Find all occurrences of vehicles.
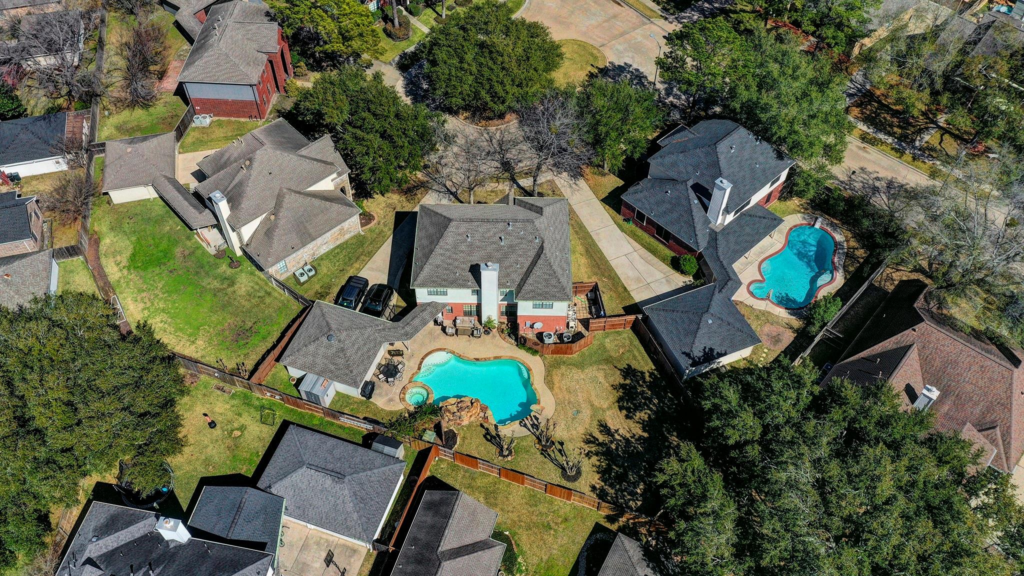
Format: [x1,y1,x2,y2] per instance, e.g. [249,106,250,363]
[359,277,395,318]
[333,267,372,310]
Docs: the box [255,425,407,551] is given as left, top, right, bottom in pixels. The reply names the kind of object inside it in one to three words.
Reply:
building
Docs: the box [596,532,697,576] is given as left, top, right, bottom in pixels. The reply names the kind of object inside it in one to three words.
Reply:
house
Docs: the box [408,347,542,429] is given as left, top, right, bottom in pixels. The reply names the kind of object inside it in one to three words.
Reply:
swimming pool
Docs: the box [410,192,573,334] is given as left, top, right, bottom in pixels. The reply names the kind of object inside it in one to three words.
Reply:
house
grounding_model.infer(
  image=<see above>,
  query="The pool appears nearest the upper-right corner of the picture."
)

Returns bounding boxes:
[745,222,839,312]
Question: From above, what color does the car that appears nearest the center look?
black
